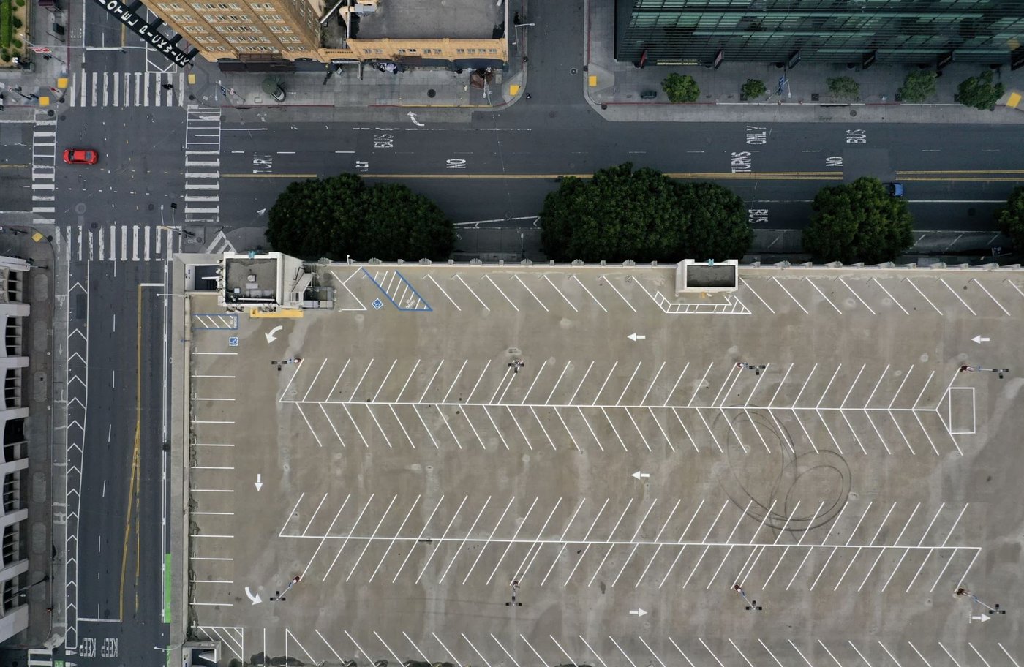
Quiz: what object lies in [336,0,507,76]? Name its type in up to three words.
building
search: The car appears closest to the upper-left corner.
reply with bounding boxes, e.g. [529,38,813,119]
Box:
[61,146,94,163]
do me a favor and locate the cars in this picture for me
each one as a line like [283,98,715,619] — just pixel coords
[880,181,906,197]
[61,146,94,163]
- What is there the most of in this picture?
buildings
